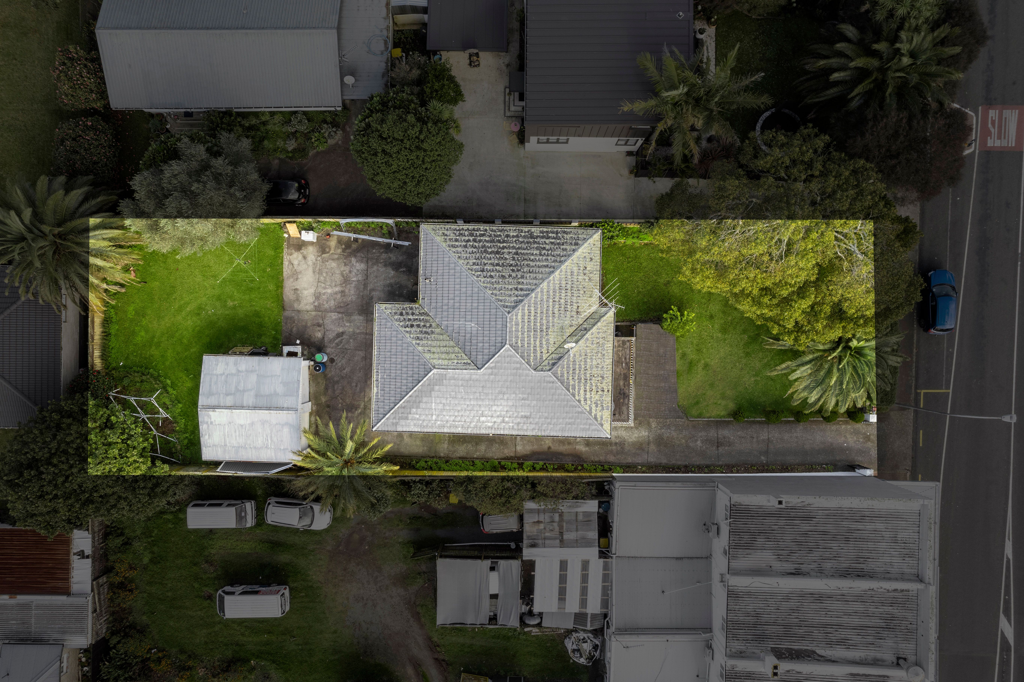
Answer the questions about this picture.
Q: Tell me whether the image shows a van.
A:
Yes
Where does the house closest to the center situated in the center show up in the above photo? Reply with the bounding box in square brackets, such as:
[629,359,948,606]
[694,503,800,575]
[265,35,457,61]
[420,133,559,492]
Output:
[370,221,617,440]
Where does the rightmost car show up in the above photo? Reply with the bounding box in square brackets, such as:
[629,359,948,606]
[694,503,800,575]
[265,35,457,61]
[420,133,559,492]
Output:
[917,270,958,335]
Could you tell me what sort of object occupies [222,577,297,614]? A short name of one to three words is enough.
van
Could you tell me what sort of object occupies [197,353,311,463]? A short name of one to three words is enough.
building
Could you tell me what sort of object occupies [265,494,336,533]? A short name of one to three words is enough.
car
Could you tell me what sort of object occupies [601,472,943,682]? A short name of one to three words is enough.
building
